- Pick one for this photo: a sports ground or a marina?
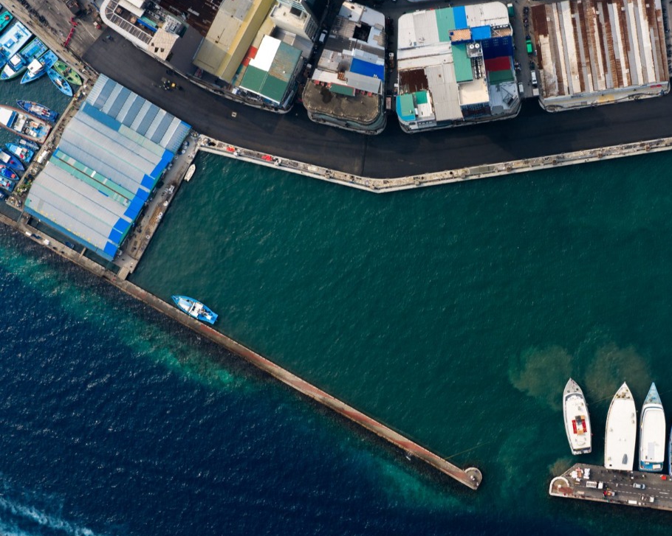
marina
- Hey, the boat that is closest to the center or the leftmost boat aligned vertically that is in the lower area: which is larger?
the leftmost boat aligned vertically that is in the lower area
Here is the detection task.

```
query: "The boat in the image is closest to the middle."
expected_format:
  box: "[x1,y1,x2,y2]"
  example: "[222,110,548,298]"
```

[174,296,223,324]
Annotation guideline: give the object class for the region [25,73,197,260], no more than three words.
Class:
building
